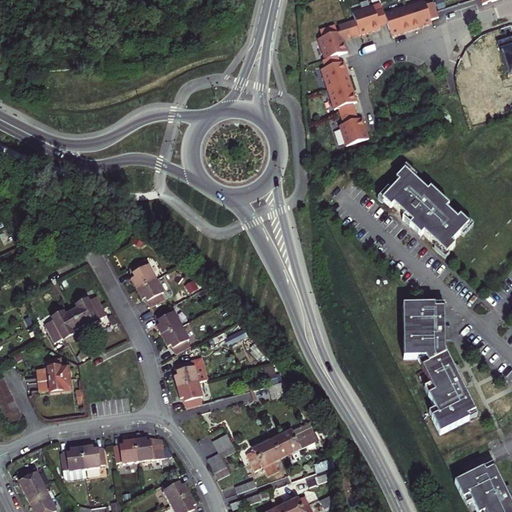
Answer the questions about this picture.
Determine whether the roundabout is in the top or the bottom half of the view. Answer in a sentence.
The roundabout is in the top half of the image.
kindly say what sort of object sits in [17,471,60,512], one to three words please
house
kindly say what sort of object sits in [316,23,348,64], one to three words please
house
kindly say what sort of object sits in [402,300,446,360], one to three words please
building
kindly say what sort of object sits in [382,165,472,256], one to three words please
building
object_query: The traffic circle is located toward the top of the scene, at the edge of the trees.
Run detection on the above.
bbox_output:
[181,100,288,206]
